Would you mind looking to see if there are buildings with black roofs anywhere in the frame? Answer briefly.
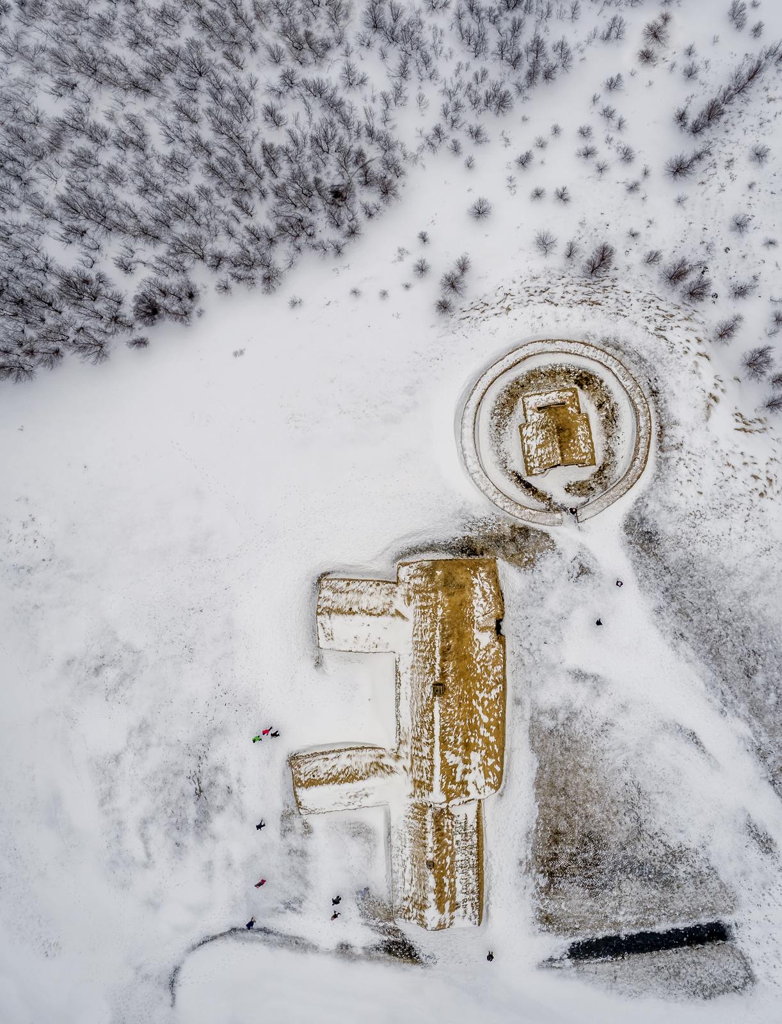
No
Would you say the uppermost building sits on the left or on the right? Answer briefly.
right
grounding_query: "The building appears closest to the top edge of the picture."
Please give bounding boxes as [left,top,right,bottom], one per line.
[519,388,596,476]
